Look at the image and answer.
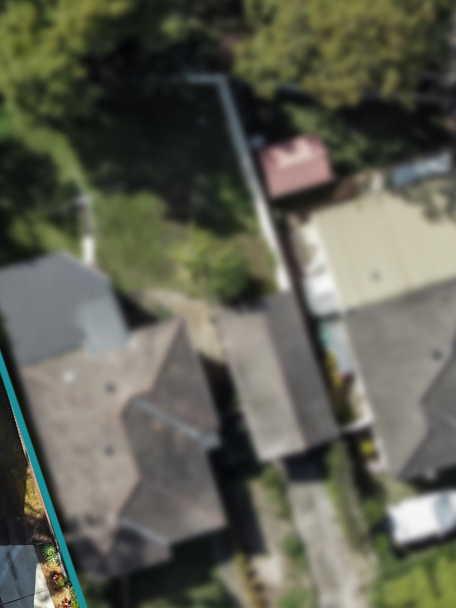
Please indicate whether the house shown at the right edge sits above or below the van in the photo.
above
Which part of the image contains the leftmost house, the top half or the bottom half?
bottom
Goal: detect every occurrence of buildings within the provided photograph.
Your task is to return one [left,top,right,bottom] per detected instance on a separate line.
[344,277,456,481]
[208,292,340,464]
[18,316,229,588]
[251,136,332,205]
